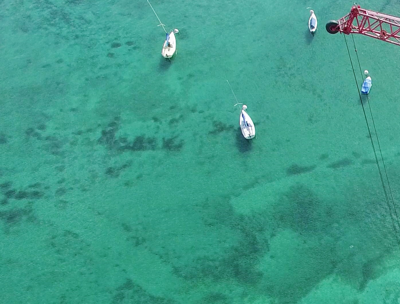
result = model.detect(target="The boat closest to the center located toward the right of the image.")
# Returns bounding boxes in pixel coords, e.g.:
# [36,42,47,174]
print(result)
[228,85,254,145]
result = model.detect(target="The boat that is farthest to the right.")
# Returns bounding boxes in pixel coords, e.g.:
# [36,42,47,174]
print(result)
[360,77,372,98]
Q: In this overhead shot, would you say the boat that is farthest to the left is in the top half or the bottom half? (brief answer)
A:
top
